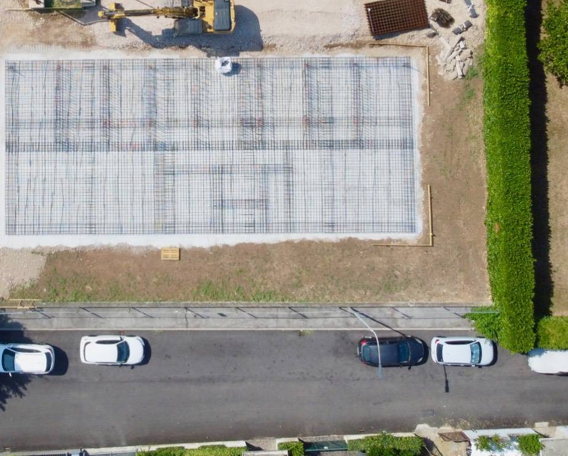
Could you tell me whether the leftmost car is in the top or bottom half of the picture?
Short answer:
bottom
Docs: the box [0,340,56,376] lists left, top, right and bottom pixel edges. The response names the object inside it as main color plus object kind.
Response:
white car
